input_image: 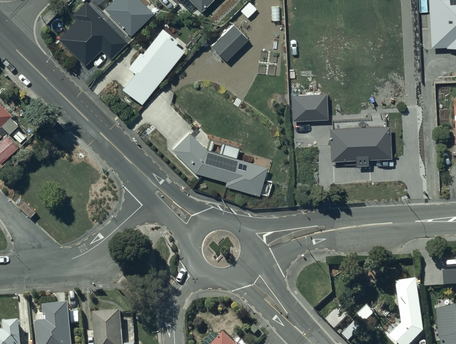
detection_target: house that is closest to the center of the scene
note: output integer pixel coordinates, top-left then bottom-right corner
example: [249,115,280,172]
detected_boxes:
[174,134,267,198]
